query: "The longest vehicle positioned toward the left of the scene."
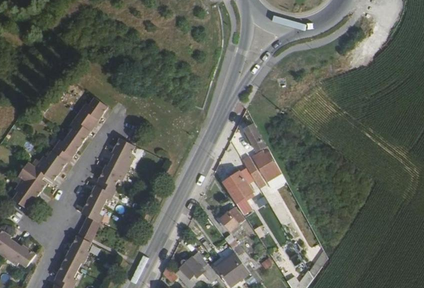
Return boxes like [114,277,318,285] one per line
[132,256,150,284]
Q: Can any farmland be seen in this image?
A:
Yes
